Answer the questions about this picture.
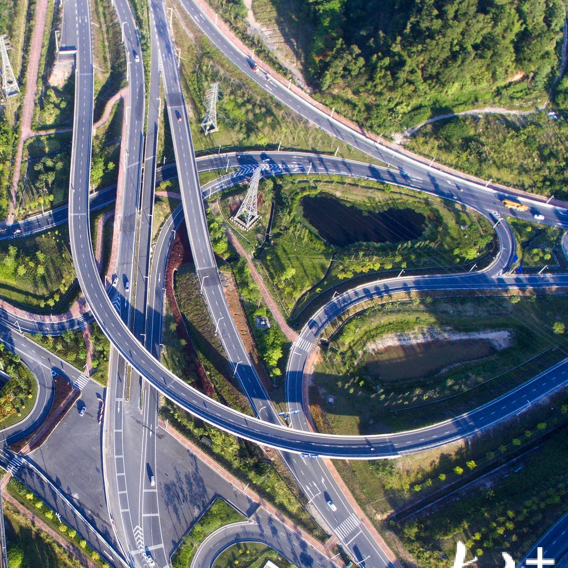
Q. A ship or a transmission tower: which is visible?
transmission tower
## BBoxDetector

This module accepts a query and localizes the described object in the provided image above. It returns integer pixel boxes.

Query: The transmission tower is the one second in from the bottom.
[200,79,222,134]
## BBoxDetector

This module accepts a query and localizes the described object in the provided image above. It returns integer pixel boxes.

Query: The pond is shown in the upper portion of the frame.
[300,192,425,246]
